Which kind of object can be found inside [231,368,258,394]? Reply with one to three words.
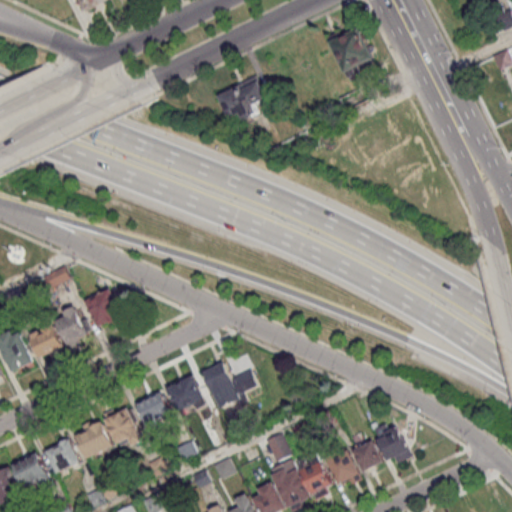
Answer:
building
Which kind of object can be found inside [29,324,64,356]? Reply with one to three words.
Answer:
house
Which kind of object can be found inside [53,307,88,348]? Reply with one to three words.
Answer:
house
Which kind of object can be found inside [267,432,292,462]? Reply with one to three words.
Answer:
building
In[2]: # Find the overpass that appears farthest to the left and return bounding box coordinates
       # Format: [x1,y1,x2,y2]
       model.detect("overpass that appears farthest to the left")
[0,62,164,178]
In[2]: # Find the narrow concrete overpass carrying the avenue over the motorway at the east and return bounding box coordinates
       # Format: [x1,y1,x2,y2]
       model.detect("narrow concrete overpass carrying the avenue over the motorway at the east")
[476,238,512,415]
